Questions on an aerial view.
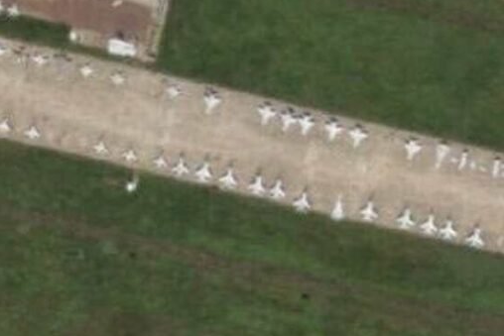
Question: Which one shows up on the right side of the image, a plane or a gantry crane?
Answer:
plane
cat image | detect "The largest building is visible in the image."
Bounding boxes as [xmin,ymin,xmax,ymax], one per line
[106,37,136,57]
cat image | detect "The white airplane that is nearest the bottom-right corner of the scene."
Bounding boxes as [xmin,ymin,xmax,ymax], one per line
[467,228,484,250]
